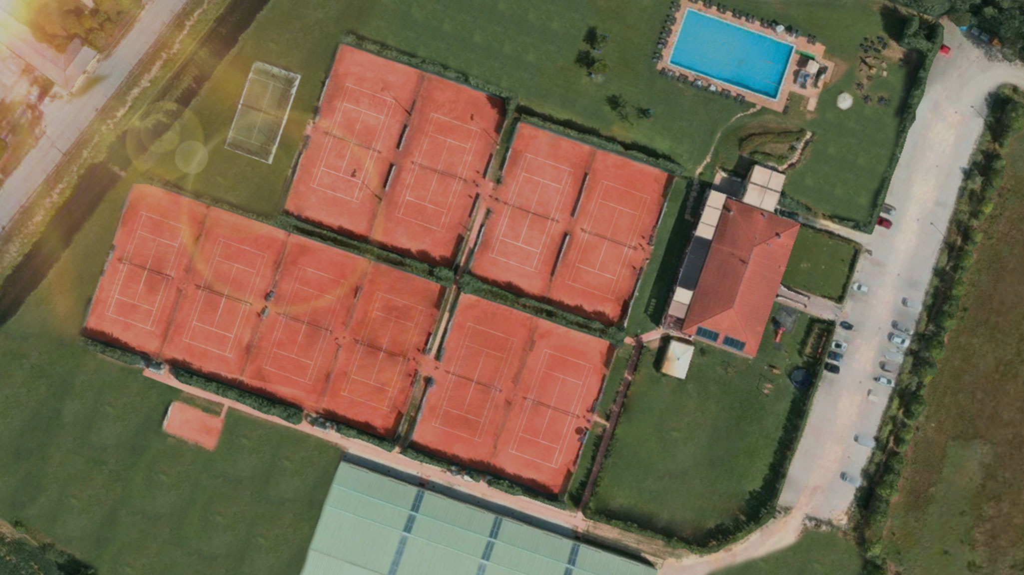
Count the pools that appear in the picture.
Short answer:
one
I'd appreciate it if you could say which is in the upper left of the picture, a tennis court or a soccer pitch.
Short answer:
tennis court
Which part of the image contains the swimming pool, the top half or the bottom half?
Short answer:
top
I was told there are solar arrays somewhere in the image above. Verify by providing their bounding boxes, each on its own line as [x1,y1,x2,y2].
[723,336,746,351]
[697,326,719,341]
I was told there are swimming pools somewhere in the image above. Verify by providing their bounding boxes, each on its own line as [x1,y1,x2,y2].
[665,5,798,102]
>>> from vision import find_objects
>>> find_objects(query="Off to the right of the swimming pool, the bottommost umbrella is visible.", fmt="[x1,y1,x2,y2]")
[837,92,853,108]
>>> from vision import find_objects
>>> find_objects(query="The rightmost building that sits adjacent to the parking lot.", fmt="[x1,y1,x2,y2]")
[659,166,799,358]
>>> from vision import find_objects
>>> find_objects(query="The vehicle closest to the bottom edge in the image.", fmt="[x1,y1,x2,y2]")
[840,473,860,485]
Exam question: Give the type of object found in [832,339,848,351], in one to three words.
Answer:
vehicle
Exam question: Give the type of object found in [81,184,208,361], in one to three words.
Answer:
tennis court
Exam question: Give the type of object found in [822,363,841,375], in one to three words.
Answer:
vehicle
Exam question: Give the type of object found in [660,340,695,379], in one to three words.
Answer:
gazebo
